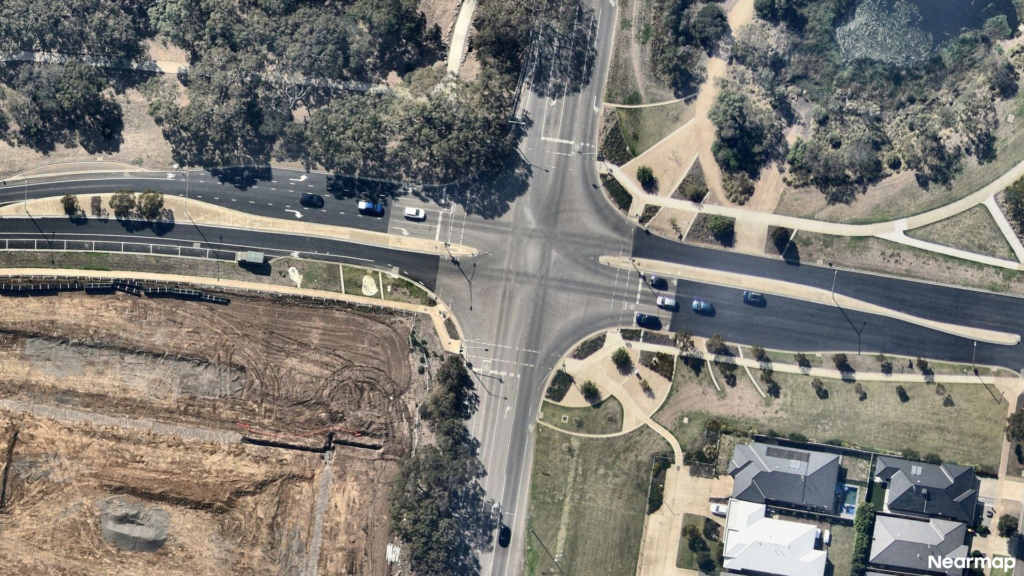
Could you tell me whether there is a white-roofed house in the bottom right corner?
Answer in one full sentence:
Yes, I can see a white-roofed house in the bottom right corner.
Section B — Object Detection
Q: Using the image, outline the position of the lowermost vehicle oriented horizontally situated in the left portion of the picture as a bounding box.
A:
[236,251,265,265]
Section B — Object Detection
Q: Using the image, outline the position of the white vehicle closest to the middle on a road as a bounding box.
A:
[403,207,427,219]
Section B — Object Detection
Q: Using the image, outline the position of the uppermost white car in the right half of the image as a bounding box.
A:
[656,295,679,308]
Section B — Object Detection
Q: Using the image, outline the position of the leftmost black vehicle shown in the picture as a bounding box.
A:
[299,193,324,206]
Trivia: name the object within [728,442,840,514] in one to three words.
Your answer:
house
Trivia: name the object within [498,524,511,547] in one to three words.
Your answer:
vehicle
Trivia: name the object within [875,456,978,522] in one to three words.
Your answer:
house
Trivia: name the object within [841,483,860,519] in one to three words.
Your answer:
swimming pool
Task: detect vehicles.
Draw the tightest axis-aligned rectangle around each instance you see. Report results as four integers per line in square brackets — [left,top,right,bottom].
[741,290,765,304]
[707,504,728,517]
[635,313,661,326]
[656,295,679,308]
[403,207,427,219]
[357,200,385,214]
[236,251,265,265]
[299,193,324,206]
[650,276,669,287]
[692,300,715,312]
[498,524,511,547]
